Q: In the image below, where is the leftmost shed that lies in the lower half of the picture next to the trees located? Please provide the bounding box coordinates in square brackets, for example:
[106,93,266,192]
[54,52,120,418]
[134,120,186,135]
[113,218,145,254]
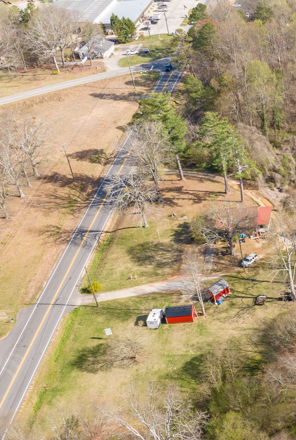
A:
[165,303,204,323]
